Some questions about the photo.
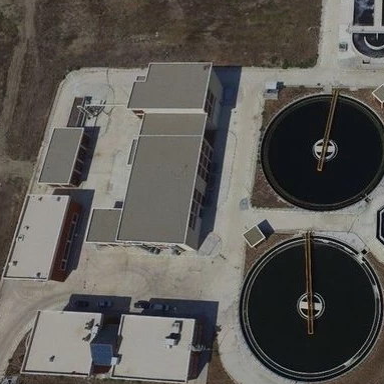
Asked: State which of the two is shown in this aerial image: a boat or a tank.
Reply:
tank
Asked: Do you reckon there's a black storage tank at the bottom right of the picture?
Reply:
Yes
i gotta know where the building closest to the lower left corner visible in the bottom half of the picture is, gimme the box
[22,311,117,377]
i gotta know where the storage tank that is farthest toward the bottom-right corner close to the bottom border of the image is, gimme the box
[239,232,384,384]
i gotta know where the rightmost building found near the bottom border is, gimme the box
[110,315,213,382]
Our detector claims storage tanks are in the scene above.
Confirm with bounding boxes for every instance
[260,87,384,213]
[239,232,384,384]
